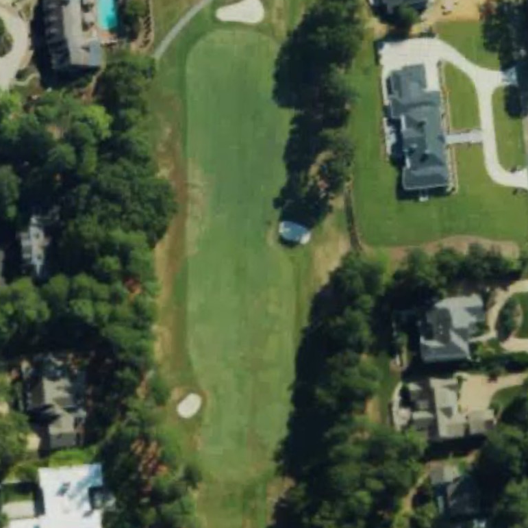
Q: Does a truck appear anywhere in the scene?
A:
No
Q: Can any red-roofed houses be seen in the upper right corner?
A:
No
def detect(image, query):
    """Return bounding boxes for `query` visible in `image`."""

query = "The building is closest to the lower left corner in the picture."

[11,465,112,528]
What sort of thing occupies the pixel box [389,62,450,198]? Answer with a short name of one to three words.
house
